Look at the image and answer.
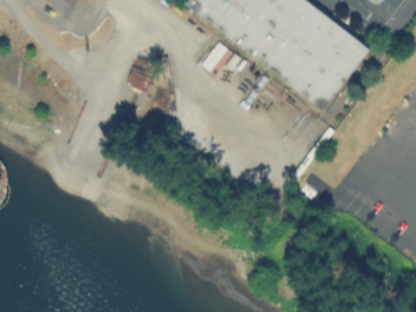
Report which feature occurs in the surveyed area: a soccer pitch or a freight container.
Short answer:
freight container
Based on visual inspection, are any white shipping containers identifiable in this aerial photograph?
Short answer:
Yes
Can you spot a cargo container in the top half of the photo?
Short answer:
Yes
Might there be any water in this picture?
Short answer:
Yes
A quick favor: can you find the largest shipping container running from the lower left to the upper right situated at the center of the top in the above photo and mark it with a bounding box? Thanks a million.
[202,42,230,73]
